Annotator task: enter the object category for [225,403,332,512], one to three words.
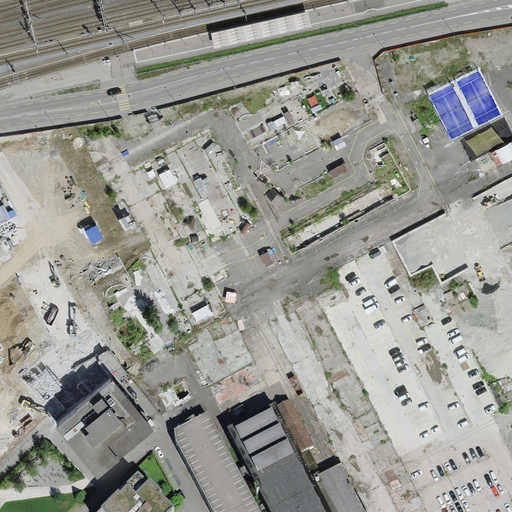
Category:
building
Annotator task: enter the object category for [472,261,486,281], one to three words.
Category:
vehicle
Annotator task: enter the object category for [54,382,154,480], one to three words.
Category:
building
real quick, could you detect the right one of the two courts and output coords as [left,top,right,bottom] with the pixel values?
[456,70,502,128]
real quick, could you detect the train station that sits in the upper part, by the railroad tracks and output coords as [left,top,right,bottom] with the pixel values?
[134,0,420,62]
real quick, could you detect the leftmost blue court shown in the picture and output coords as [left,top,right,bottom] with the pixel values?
[428,84,476,140]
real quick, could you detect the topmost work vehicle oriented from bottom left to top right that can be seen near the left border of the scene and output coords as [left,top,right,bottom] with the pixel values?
[12,340,34,364]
